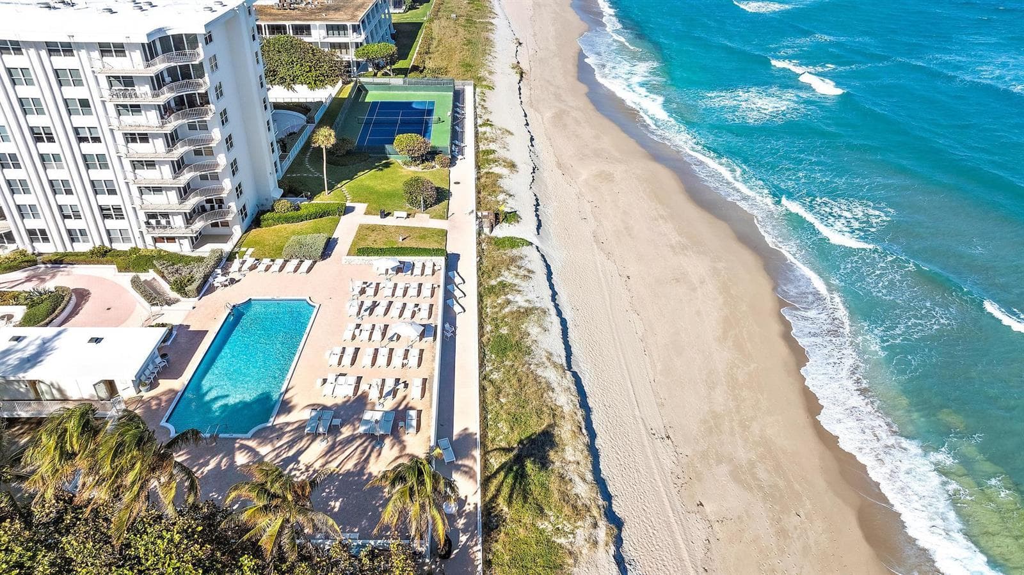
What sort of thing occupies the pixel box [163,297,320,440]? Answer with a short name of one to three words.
swimming pool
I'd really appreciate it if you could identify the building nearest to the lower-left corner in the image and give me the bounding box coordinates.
[0,327,169,403]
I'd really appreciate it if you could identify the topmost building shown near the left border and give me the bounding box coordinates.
[0,0,286,247]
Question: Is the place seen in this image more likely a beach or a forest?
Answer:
beach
